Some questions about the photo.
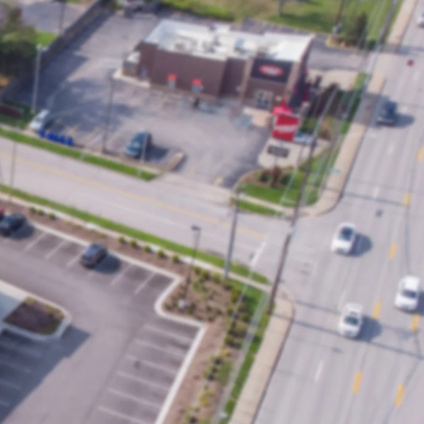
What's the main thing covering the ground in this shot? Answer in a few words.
paved ground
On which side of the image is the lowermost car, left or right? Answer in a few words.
right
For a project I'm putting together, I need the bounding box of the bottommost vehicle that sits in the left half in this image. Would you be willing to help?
[77,244,113,272]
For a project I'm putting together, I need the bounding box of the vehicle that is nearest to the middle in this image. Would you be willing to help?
[119,135,157,158]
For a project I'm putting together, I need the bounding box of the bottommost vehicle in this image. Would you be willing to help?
[338,307,366,341]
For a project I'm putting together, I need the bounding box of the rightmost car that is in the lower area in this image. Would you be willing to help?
[395,281,422,314]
